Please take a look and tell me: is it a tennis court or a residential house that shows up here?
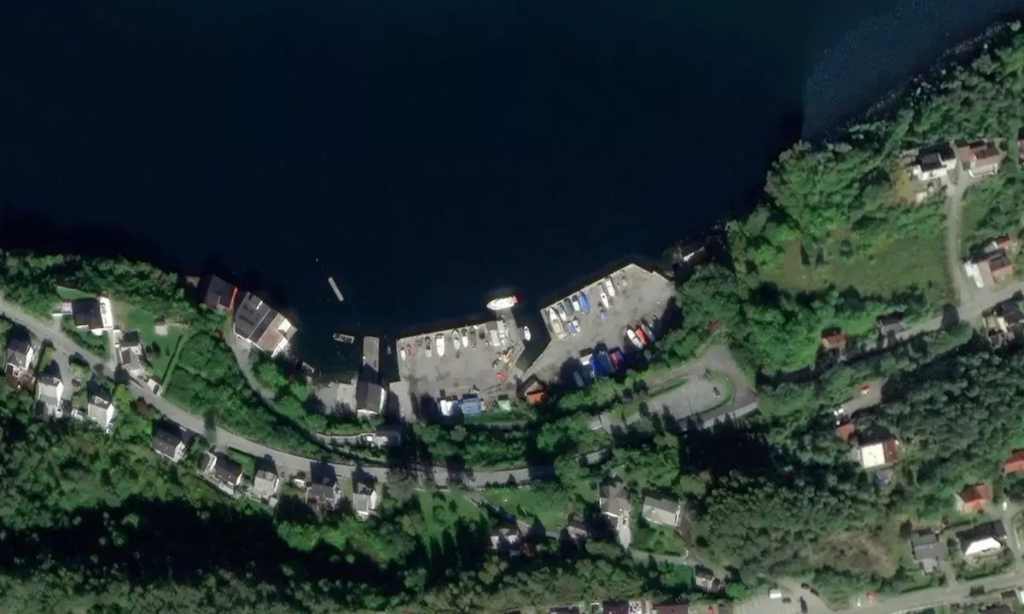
residential house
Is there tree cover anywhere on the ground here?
Yes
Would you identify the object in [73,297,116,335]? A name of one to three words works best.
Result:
house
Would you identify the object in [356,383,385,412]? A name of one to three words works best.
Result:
building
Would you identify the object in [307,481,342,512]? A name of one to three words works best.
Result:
house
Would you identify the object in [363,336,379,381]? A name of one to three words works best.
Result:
pier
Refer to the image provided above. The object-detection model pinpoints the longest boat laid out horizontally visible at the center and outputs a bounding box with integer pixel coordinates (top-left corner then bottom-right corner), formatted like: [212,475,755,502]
[487,296,517,309]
